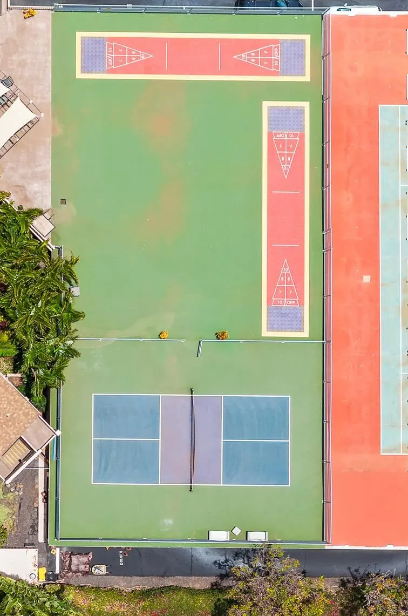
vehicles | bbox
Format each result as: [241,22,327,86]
[332,1,383,12]
[233,0,302,9]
